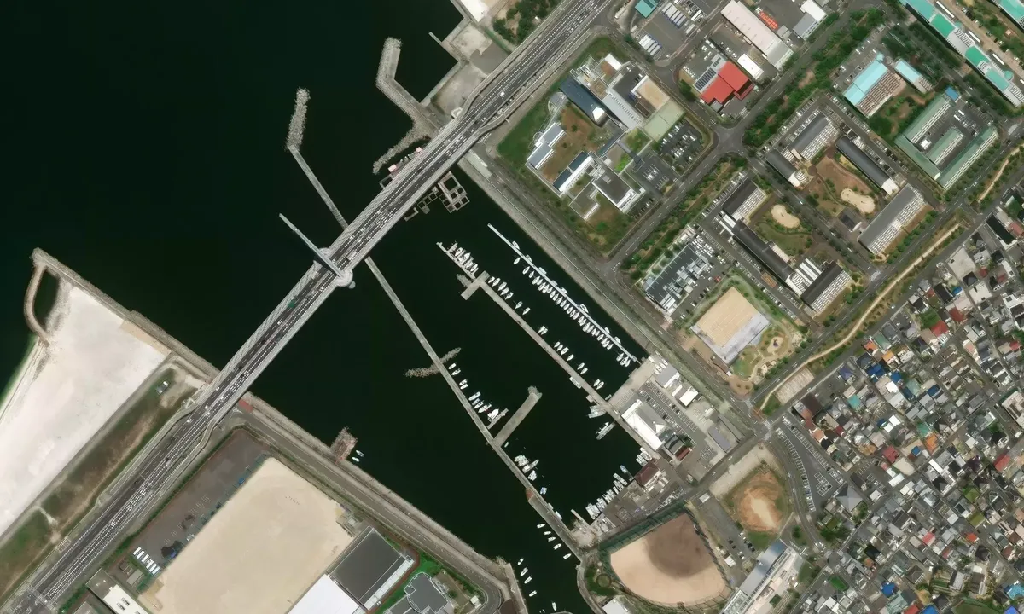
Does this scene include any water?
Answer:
Yes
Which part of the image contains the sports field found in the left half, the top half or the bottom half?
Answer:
bottom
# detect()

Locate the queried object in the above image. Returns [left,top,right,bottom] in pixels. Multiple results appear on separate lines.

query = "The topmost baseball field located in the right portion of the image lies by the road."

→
[733,461,788,533]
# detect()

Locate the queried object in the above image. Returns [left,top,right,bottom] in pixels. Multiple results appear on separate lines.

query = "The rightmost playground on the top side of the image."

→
[841,188,875,212]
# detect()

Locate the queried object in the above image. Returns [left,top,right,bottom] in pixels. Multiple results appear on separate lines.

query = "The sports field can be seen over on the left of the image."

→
[136,455,351,614]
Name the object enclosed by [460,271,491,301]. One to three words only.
pier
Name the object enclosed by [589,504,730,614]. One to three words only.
baseball field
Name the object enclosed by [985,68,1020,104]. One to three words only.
building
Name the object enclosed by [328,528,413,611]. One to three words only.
building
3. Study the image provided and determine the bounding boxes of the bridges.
[15,0,610,614]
